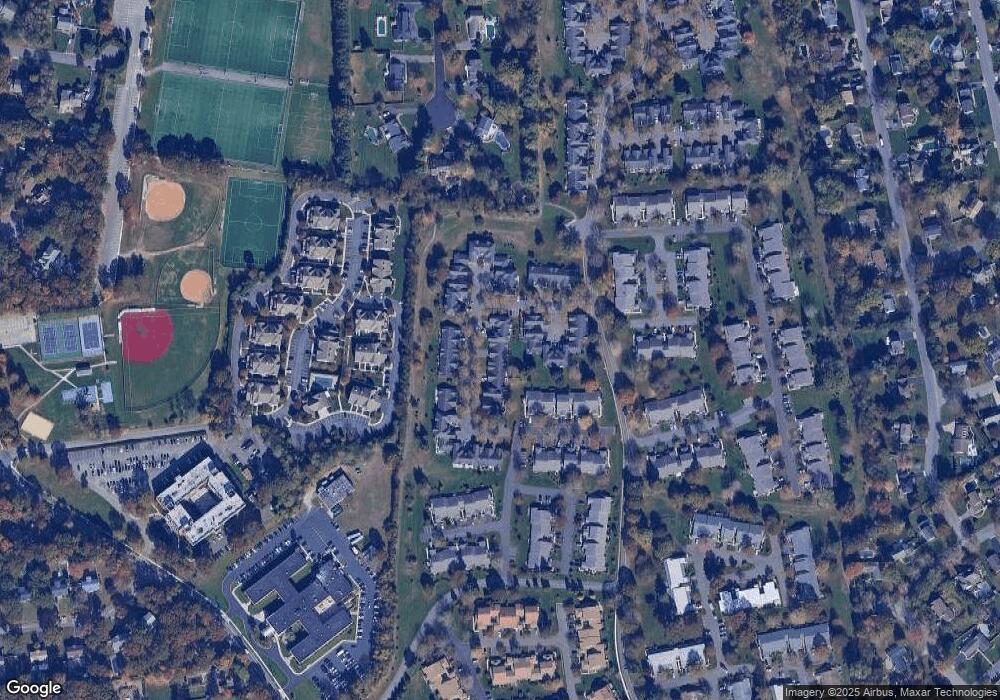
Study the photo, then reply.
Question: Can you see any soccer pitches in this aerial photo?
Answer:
Yes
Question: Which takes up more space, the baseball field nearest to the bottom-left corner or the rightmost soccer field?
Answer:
the baseball field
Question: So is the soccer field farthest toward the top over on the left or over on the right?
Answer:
left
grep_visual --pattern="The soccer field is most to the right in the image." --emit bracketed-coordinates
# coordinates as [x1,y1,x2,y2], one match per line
[286,84,332,162]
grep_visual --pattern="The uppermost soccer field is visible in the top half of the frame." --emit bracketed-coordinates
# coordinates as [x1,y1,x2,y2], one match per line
[162,0,303,82]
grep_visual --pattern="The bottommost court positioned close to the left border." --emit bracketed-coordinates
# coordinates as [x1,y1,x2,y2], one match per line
[21,413,54,439]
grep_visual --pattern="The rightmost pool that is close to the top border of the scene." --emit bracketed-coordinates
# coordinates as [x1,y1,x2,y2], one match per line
[931,33,945,53]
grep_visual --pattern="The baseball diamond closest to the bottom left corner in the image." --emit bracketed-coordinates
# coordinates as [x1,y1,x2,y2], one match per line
[117,307,221,411]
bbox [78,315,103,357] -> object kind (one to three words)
basketball court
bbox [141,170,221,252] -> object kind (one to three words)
baseball field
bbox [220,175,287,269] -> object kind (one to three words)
soccer field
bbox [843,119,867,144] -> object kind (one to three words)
house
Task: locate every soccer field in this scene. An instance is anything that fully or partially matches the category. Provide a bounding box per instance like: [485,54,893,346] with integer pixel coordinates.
[151,70,289,164]
[286,84,332,162]
[162,0,303,82]
[220,175,287,269]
